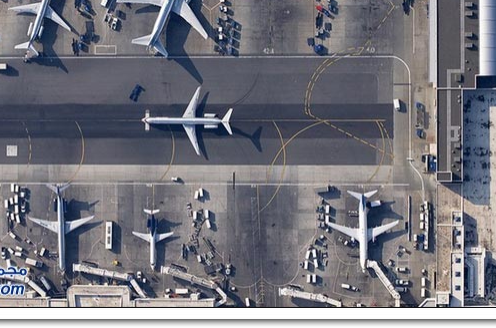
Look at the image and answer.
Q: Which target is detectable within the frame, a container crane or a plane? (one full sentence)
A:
Looking from above, you can make out a plane.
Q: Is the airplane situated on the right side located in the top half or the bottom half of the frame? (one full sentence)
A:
You can find the airplane situated on the right side in the bottom half.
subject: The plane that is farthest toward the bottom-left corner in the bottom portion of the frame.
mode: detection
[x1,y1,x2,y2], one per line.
[27,183,93,270]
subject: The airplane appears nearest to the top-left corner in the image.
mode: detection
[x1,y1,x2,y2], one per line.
[7,0,70,55]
